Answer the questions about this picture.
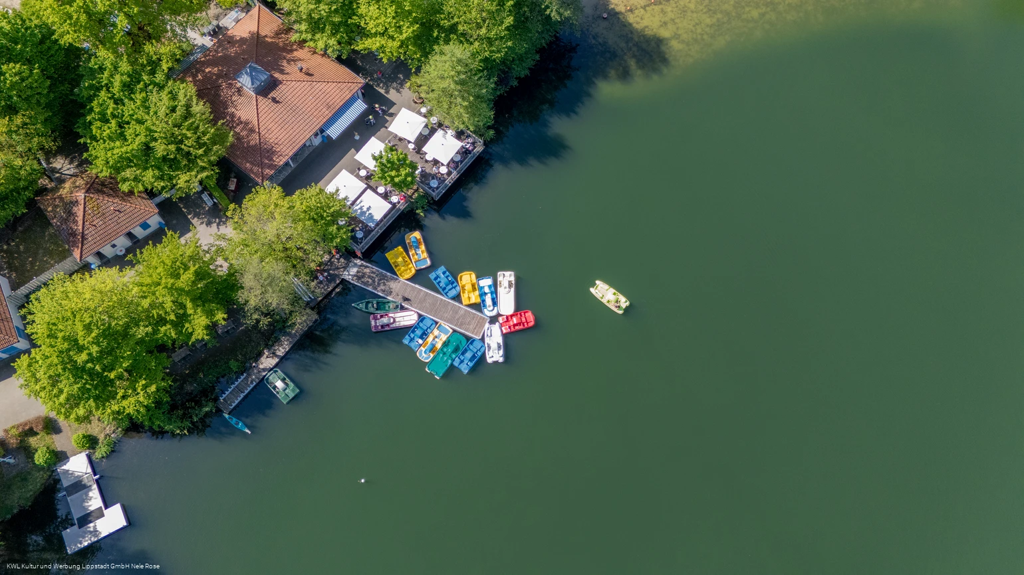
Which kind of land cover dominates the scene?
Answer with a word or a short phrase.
water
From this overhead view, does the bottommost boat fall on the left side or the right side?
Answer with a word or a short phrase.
left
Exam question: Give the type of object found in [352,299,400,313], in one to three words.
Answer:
boat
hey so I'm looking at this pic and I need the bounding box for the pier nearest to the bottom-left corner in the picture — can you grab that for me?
[53,452,132,554]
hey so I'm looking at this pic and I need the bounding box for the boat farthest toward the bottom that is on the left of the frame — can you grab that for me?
[223,413,252,433]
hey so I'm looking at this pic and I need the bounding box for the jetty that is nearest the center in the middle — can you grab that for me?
[344,259,491,340]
